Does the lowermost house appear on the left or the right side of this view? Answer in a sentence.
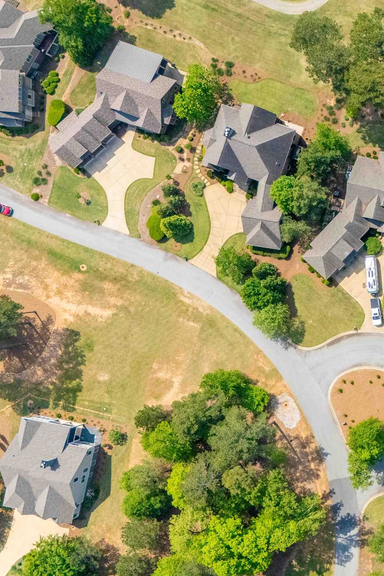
The lowermost house appears in the left half of the scene.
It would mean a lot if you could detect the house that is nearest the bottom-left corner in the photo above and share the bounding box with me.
[0,414,103,523]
